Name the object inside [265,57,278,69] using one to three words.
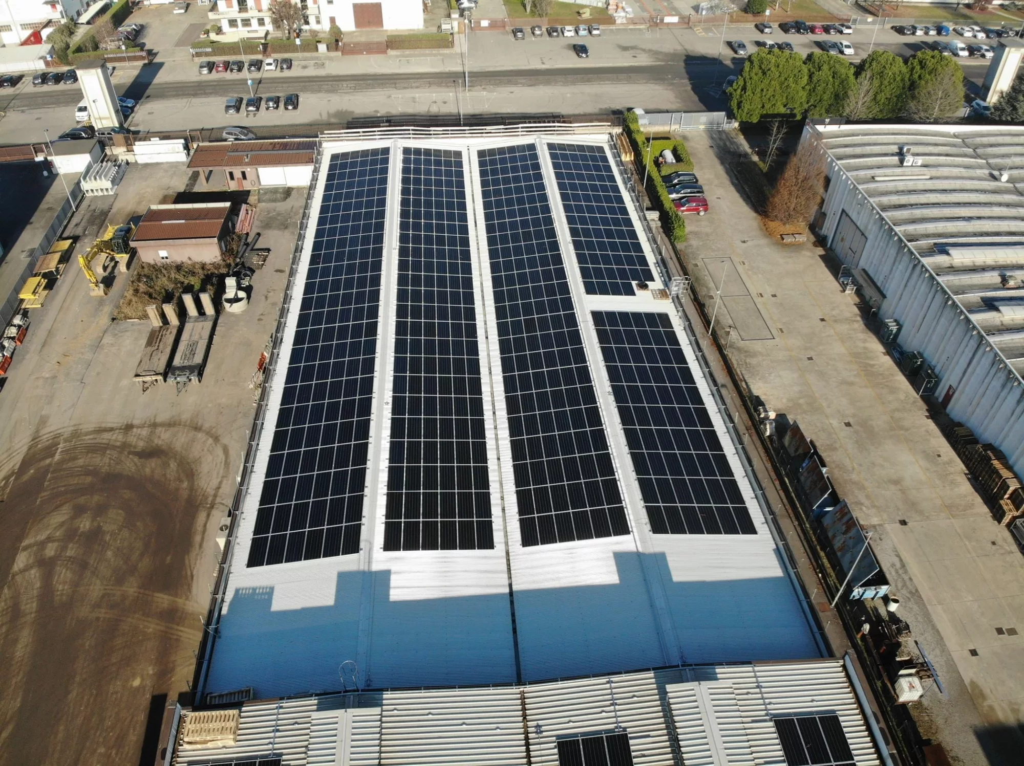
vehicle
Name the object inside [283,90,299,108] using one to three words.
car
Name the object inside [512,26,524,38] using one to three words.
vehicle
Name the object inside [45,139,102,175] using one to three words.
shed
